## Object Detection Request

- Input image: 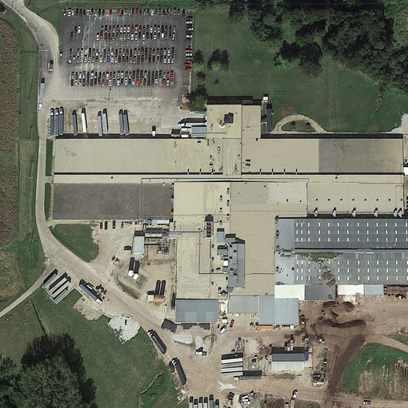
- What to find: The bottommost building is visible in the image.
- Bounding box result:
[271,353,304,371]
